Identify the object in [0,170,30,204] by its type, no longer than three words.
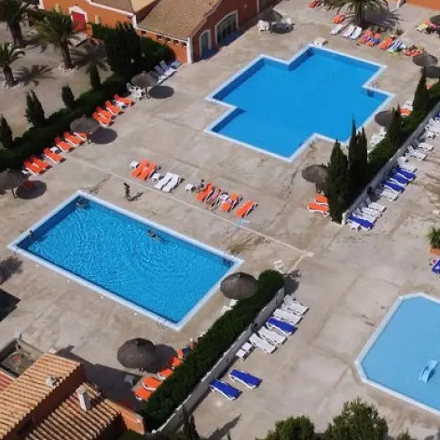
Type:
umbrella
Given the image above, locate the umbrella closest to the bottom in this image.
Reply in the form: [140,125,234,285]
[117,342,157,377]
